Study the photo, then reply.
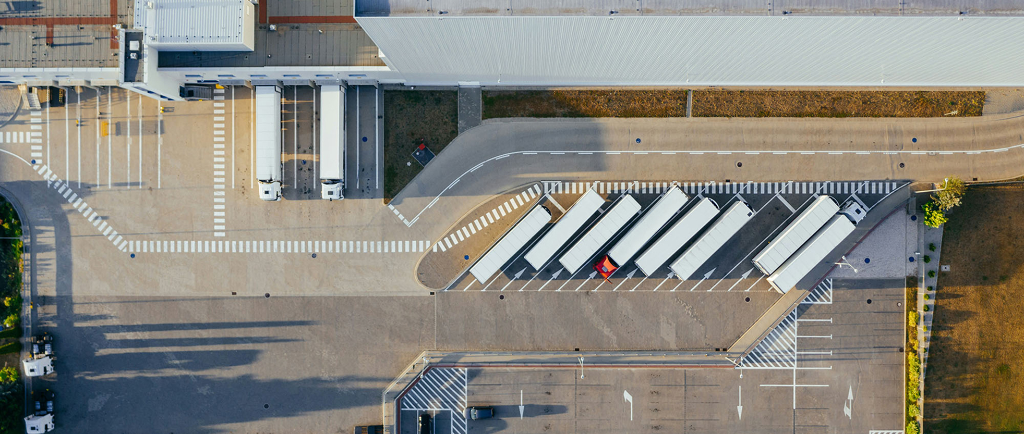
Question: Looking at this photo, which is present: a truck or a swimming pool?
truck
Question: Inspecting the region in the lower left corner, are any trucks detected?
Yes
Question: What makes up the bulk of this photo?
paved ground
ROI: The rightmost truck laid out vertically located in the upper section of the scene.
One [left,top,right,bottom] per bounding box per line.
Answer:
[321,85,346,201]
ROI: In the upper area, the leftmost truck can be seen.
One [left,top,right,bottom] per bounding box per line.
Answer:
[256,85,284,201]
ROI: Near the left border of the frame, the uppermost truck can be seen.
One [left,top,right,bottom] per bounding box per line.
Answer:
[21,333,56,377]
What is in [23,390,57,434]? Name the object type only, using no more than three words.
truck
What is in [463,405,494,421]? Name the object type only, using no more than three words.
car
